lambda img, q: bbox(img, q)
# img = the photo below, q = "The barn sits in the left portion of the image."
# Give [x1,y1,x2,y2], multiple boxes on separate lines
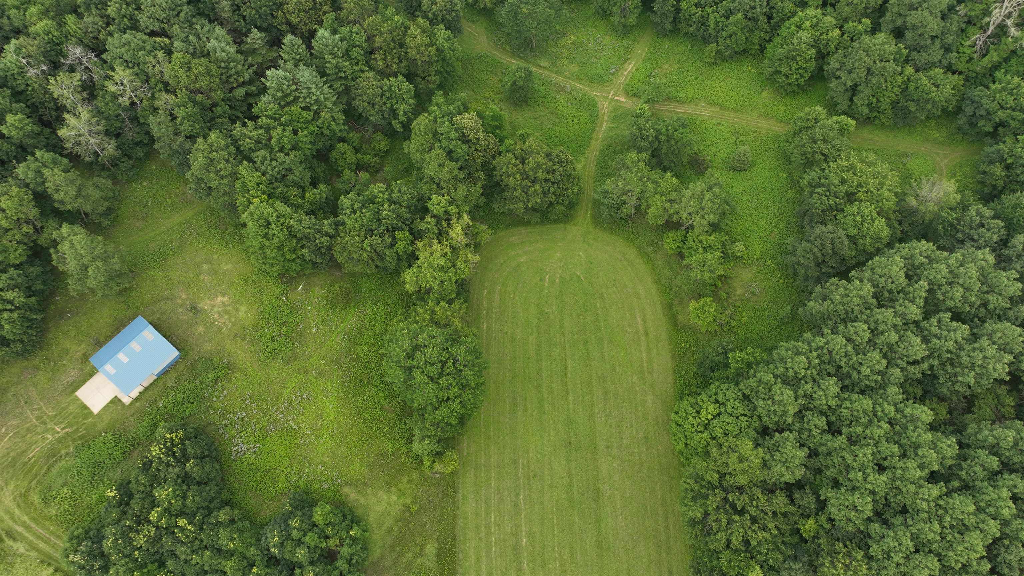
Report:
[90,314,182,397]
